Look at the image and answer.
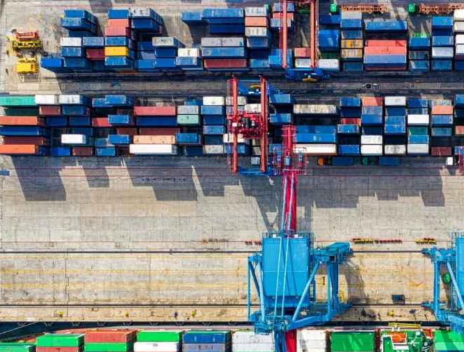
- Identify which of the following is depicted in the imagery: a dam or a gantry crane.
gantry crane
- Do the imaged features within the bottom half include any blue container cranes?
Yes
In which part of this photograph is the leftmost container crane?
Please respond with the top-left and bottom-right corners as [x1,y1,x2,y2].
[228,77,287,179]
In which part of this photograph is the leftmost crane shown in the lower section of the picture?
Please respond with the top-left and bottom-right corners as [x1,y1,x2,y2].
[240,124,355,352]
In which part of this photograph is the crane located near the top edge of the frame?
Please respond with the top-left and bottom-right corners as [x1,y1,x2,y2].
[278,0,334,84]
